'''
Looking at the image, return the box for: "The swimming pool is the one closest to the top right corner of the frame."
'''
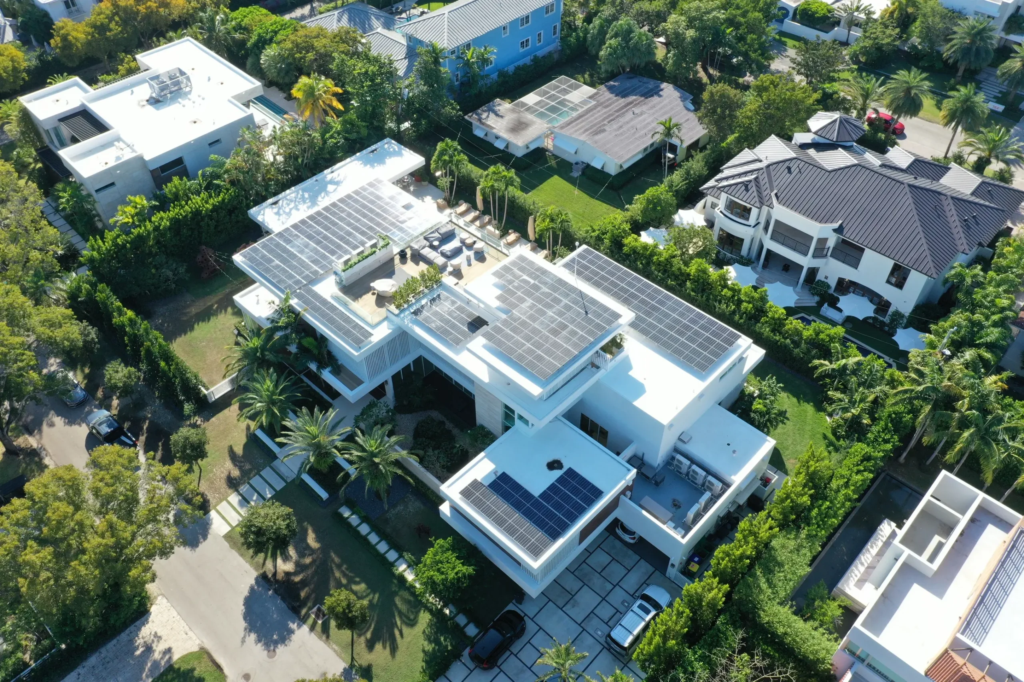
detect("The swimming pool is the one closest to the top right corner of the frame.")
[787,307,877,366]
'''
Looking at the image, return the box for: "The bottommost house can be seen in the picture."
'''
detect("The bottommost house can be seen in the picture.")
[817,471,1024,682]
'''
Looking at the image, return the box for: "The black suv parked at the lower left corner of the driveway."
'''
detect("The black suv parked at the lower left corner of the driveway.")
[467,606,535,676]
